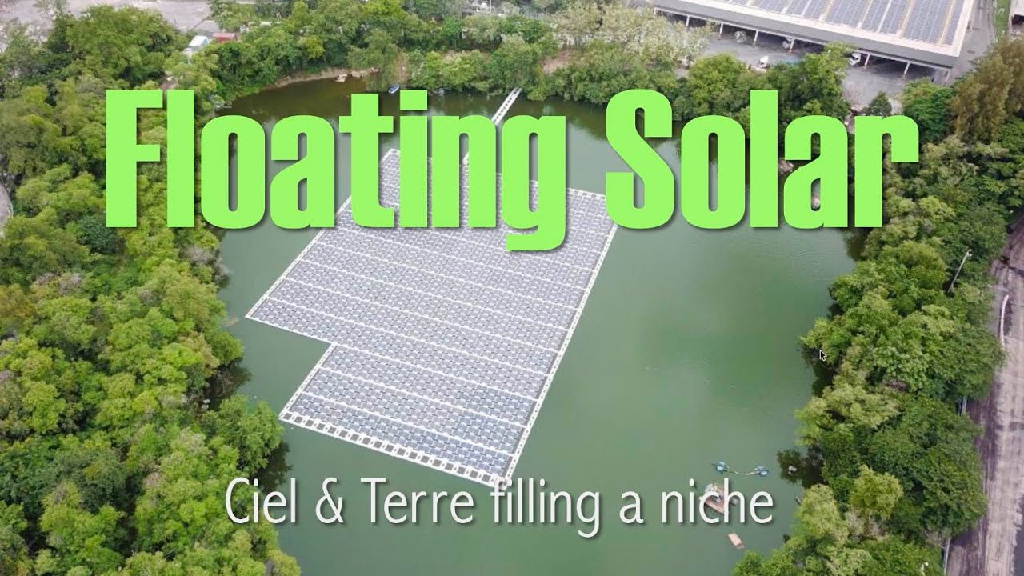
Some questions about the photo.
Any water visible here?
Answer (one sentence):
Yes, some water is visible.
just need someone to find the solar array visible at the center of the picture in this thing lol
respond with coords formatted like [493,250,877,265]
[246,149,624,489]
